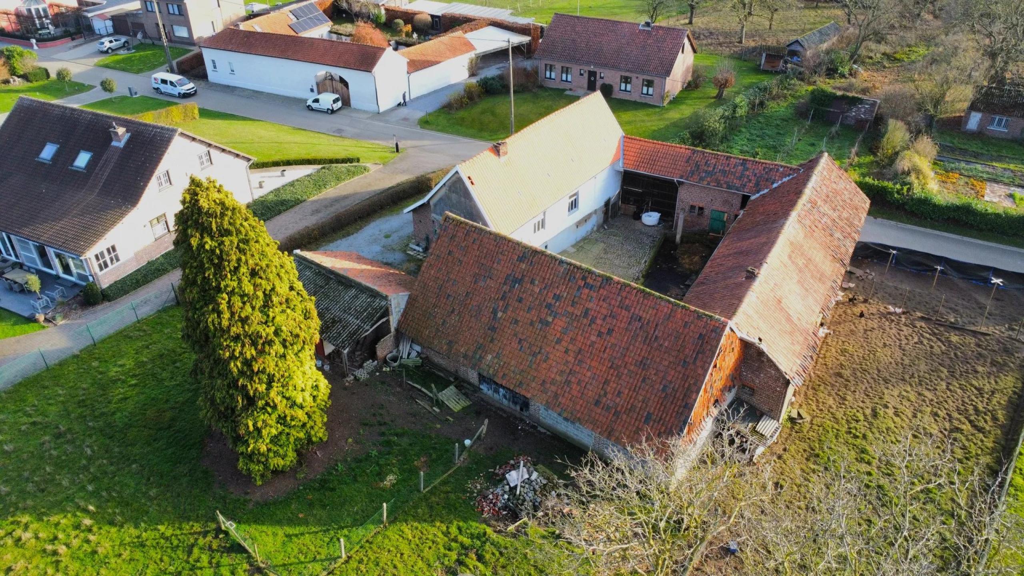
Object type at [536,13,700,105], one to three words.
house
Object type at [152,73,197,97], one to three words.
vehicle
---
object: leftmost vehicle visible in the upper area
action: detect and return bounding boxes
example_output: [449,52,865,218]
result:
[97,36,125,51]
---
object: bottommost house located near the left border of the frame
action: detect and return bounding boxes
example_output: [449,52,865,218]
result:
[0,97,259,287]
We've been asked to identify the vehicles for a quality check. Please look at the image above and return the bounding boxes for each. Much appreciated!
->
[306,92,343,114]
[152,73,197,97]
[97,36,125,51]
